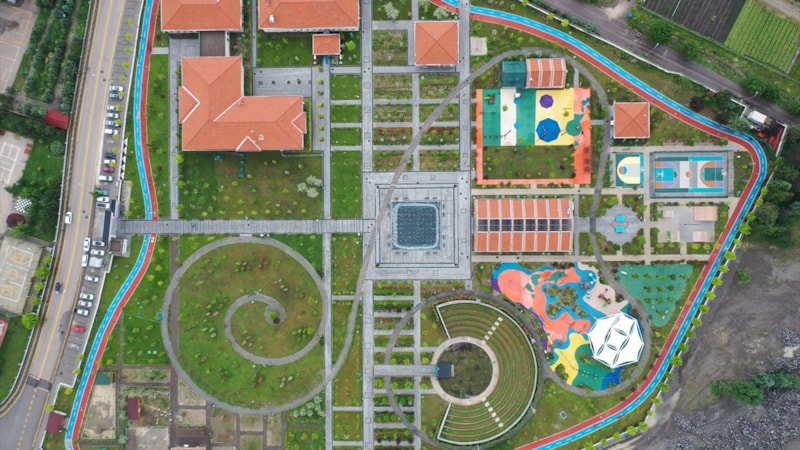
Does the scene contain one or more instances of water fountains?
Yes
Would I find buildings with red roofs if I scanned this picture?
Yes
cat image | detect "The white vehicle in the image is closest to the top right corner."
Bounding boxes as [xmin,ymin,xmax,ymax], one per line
[752,108,775,125]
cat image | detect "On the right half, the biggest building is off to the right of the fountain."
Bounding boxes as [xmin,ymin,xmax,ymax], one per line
[475,198,576,252]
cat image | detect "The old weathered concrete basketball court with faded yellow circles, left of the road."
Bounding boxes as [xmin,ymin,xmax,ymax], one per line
[0,234,43,314]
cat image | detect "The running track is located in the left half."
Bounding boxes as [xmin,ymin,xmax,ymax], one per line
[66,0,160,438]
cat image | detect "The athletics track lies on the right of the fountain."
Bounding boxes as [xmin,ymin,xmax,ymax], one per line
[425,0,770,450]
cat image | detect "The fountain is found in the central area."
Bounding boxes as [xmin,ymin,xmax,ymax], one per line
[376,183,459,267]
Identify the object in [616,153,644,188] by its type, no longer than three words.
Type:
basketball court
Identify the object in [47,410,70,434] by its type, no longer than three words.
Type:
shed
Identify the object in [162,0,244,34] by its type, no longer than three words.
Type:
house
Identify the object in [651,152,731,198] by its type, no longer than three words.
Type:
basketball court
